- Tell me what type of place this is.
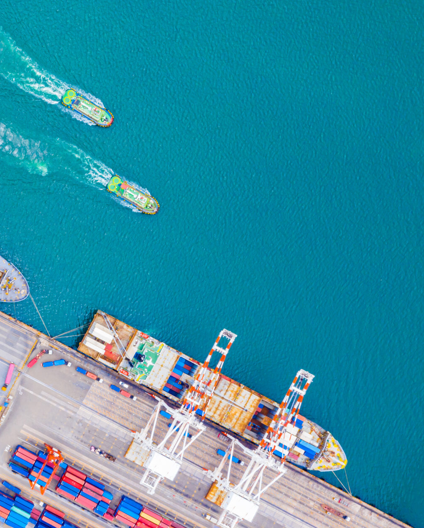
port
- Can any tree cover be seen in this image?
No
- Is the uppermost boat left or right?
left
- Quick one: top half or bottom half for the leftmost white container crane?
bottom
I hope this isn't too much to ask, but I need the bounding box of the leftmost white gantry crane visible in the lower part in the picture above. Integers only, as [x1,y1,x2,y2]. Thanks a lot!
[117,327,237,491]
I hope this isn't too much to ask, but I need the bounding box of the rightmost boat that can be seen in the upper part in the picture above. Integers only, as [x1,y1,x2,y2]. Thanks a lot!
[105,177,160,215]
